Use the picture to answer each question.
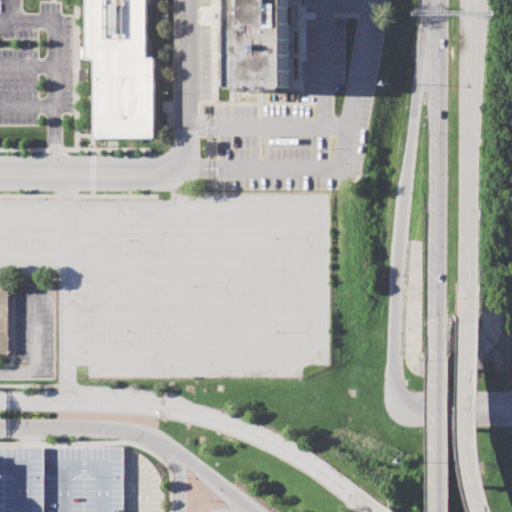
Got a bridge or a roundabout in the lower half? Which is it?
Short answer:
bridge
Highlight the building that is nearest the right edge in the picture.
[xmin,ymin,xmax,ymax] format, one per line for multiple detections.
[222,0,315,91]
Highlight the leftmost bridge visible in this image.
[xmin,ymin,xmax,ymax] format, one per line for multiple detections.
[426,359,448,512]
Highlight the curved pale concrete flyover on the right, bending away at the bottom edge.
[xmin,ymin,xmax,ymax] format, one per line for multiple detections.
[454,320,491,512]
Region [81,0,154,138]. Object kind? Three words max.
building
